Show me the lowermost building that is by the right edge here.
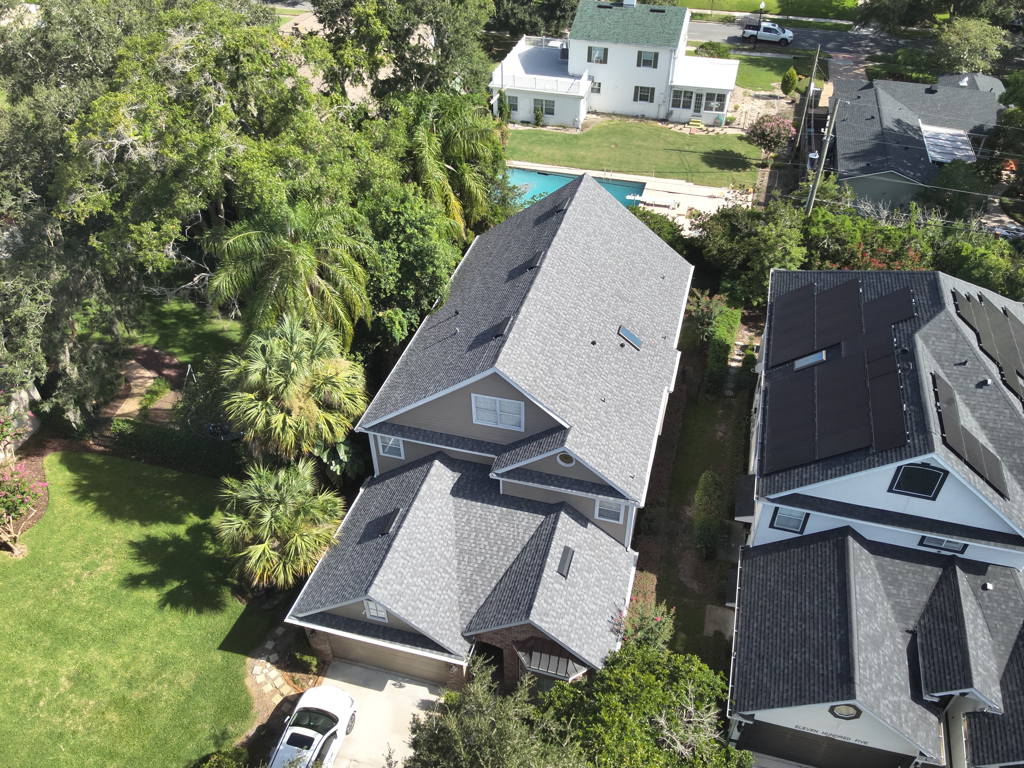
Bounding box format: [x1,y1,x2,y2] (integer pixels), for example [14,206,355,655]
[723,261,1024,768]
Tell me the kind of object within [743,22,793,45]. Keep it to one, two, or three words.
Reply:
truck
